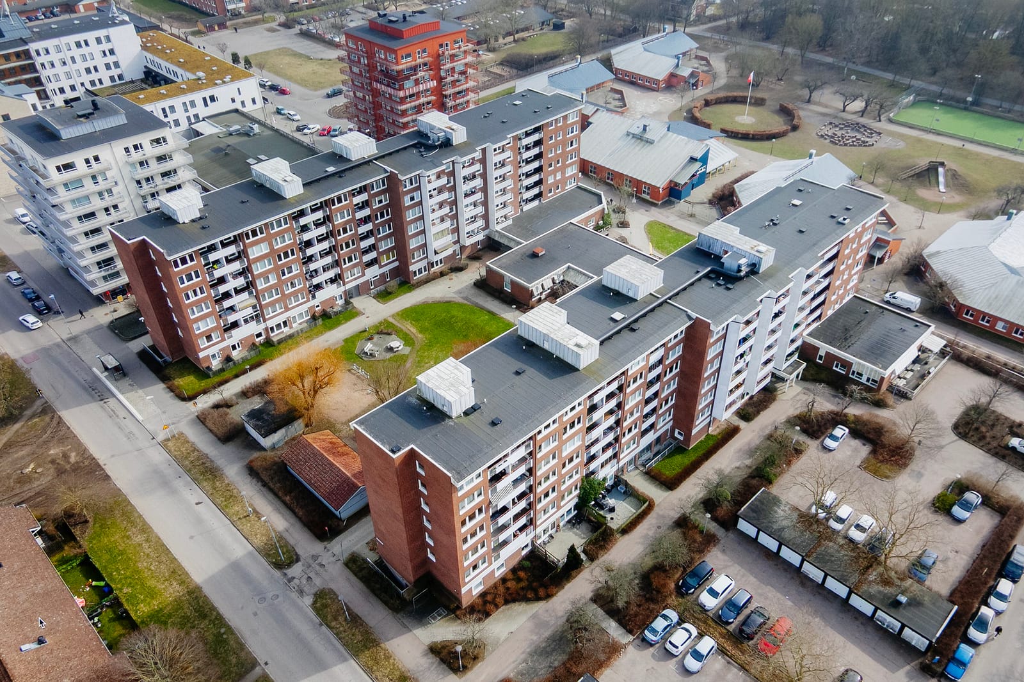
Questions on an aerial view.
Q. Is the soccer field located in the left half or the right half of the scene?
right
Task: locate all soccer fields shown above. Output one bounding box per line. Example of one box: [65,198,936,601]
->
[891,101,1024,150]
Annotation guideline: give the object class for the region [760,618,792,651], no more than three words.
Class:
car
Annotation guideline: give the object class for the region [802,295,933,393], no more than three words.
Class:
building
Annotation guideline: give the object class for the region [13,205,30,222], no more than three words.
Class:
vehicle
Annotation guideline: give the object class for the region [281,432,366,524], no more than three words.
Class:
shed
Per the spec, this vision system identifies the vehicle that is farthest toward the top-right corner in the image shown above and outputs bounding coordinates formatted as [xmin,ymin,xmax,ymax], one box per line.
[888,291,921,310]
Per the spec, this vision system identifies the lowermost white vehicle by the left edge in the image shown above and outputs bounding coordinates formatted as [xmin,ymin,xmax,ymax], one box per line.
[18,314,43,329]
